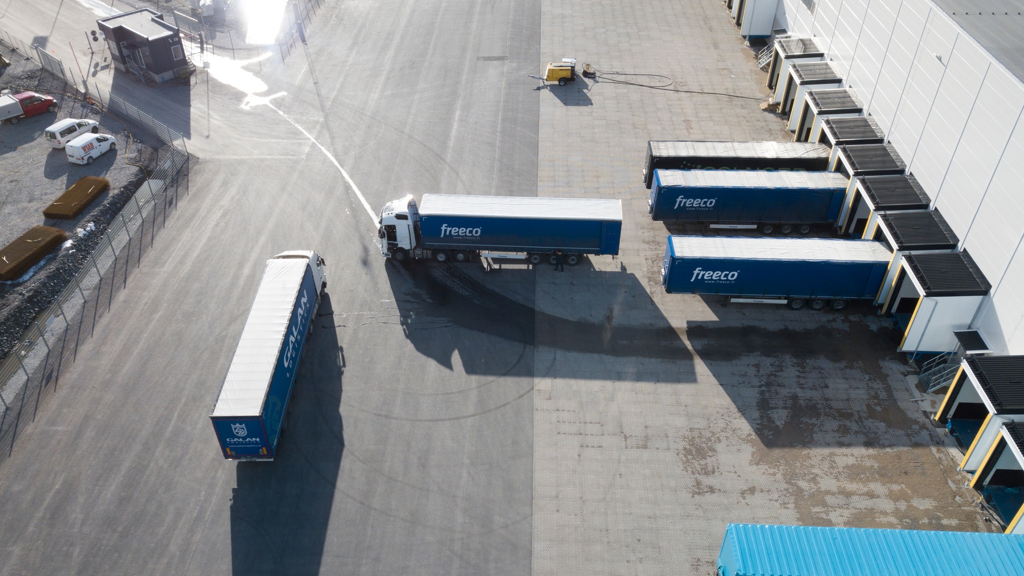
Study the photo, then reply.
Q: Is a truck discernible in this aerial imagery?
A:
Yes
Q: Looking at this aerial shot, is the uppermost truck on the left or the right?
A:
left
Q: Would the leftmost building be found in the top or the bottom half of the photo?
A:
top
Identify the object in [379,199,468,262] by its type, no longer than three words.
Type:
truck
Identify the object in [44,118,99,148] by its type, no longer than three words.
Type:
van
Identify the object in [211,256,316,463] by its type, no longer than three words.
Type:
trailer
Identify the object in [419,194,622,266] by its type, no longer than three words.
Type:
trailer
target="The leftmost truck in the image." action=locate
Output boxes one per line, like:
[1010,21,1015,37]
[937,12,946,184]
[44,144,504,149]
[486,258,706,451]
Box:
[0,91,59,125]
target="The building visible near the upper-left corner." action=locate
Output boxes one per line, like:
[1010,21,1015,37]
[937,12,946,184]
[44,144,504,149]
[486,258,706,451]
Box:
[96,7,186,81]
